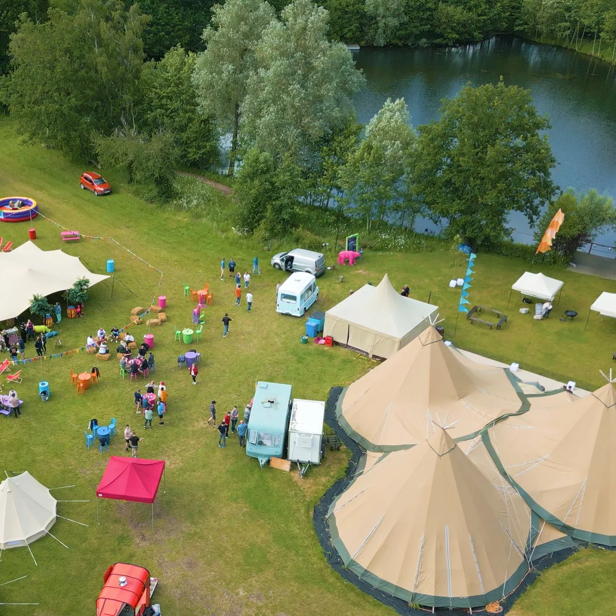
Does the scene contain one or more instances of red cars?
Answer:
Yes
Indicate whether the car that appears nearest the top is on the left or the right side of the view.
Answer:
left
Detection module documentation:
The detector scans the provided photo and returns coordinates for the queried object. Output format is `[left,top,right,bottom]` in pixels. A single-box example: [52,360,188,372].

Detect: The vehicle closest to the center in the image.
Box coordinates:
[274,267,325,316]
